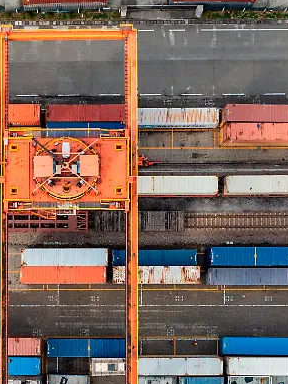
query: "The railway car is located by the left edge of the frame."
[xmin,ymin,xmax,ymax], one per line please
[9,211,93,232]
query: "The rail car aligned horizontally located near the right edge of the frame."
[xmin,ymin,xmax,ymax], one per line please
[218,177,288,195]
